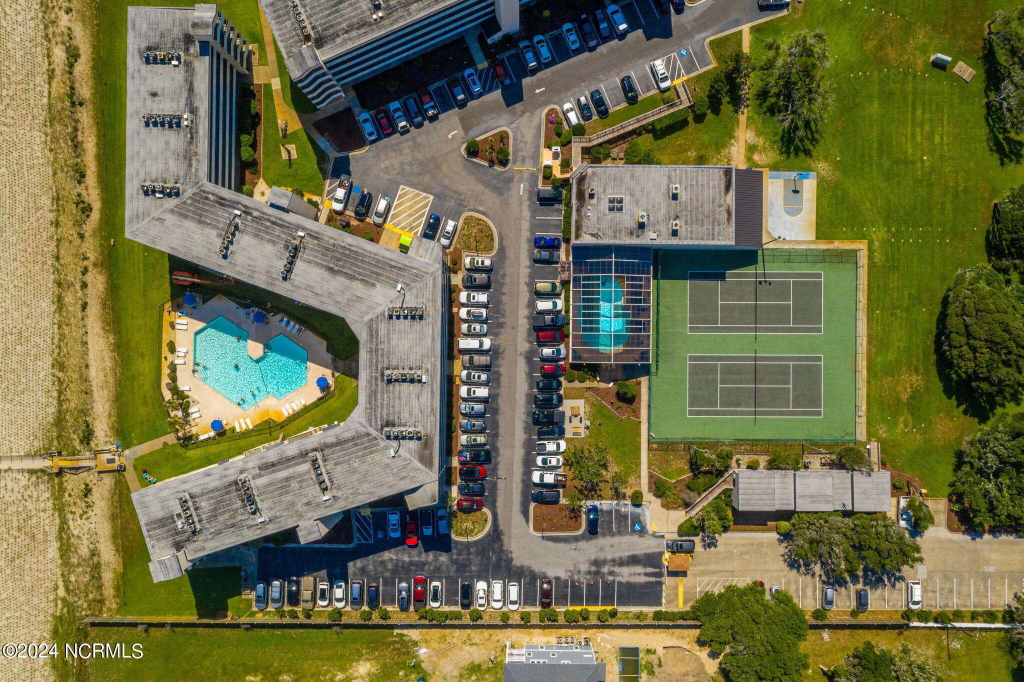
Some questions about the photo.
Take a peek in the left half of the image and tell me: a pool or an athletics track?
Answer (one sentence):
You can see a pool in the left half of the image.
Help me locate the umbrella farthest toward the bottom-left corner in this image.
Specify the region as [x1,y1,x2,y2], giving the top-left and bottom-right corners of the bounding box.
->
[210,418,225,432]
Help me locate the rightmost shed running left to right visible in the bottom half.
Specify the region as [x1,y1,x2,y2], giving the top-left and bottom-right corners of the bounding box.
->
[724,465,897,512]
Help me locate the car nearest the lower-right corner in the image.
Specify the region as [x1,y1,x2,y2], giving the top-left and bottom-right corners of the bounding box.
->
[906,579,923,610]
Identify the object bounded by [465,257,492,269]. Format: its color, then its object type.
white vehicle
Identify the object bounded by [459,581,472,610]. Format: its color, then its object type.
black vehicle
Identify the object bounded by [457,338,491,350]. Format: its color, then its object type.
white vehicle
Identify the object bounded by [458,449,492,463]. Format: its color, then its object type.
black vehicle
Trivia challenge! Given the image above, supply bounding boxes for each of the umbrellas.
[183,292,197,306]
[252,310,267,324]
[316,376,330,390]
[210,418,225,432]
